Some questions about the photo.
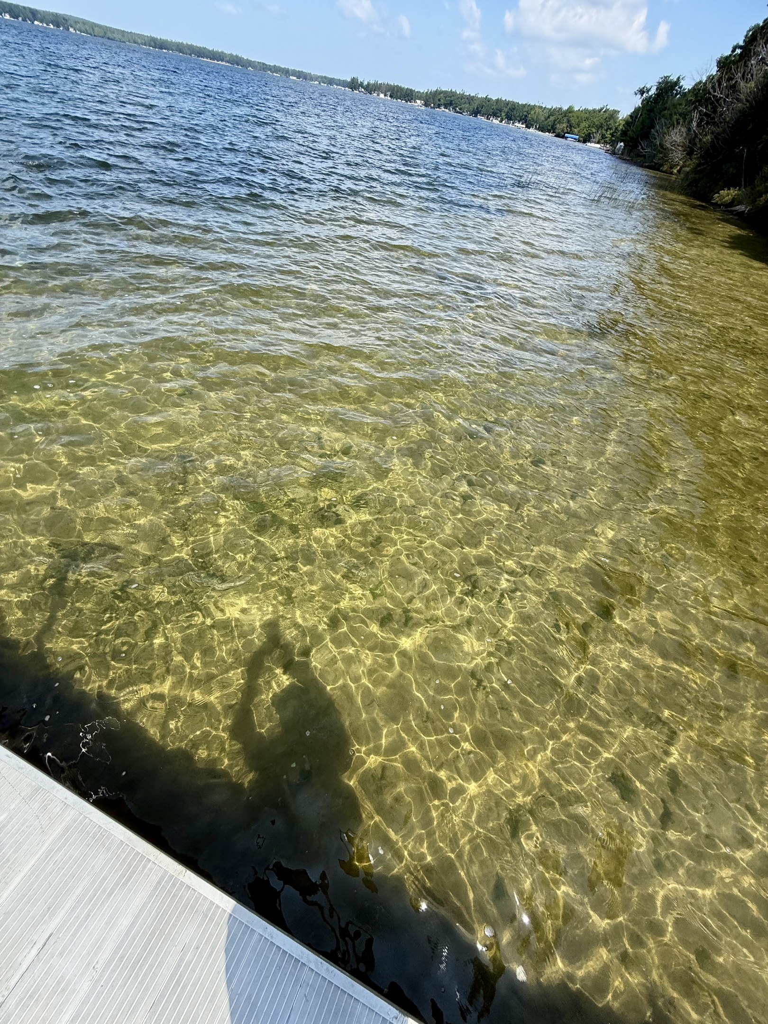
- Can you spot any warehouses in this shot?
No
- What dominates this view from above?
water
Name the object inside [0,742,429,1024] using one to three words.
pier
